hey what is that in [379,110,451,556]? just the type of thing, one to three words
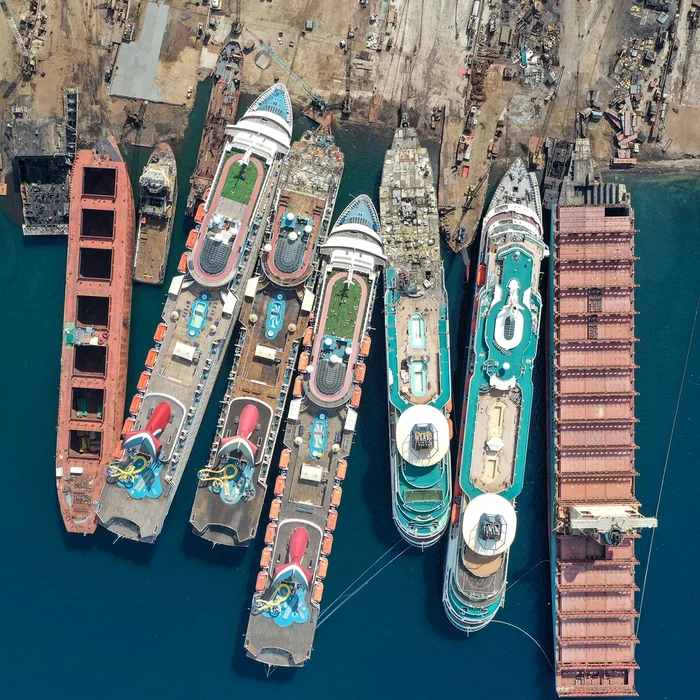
ship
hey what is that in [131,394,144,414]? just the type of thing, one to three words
boat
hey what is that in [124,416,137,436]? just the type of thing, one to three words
boat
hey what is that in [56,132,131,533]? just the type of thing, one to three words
ship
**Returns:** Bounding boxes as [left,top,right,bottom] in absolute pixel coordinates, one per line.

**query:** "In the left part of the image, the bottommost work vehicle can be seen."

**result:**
[117,112,141,133]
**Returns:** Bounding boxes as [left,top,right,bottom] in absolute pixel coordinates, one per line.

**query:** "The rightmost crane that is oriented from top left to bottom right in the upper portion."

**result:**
[245,29,327,113]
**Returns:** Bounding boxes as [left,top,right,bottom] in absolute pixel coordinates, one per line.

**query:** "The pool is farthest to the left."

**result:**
[186,288,211,337]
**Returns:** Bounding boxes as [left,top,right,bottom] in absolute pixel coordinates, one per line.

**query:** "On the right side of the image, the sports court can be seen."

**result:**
[463,567,496,592]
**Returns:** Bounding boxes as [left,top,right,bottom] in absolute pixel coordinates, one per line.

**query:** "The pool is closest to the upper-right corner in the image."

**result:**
[409,312,426,349]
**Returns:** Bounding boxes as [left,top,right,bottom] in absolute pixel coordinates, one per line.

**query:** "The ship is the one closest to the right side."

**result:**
[543,124,661,698]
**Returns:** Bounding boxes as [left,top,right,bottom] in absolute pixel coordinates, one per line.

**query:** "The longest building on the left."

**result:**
[110,2,172,102]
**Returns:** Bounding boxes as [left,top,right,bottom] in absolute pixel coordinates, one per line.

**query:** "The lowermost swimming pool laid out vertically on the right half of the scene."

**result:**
[483,455,498,484]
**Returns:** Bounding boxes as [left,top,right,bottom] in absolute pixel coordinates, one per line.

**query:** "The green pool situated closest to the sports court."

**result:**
[405,487,442,504]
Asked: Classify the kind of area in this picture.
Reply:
port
